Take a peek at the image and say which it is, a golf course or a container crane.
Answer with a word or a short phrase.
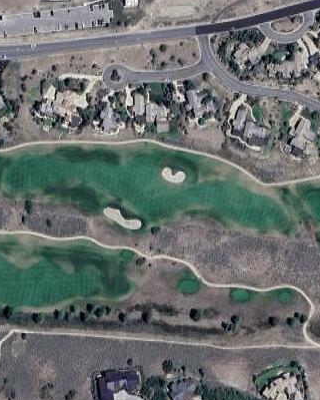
golf course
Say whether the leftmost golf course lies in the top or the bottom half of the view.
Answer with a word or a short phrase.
bottom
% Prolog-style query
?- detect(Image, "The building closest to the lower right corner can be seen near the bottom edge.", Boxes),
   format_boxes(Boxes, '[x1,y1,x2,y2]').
[260,370,302,400]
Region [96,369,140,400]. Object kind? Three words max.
house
